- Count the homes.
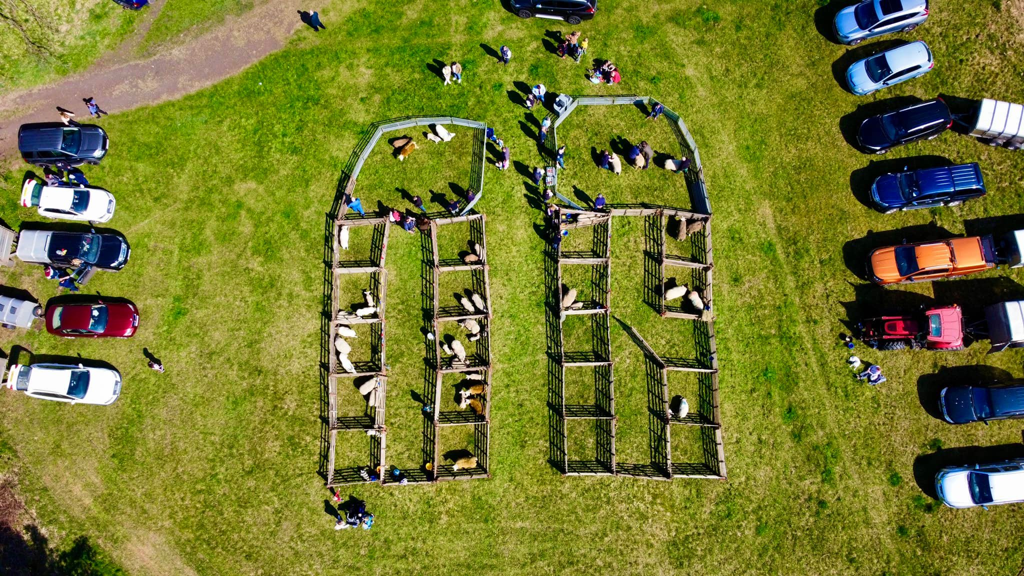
0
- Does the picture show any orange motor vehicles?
Yes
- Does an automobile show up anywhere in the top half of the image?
Yes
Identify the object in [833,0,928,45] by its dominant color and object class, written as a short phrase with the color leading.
blue car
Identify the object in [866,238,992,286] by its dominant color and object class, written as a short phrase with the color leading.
orange truck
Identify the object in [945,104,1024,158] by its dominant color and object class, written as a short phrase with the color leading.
white trailer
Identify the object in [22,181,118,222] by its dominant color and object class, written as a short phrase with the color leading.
white car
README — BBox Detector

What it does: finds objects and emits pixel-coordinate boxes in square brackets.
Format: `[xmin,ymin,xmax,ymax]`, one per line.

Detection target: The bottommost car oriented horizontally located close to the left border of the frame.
[8,360,122,405]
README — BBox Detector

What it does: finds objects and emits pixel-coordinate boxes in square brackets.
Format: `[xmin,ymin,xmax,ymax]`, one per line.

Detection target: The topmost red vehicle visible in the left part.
[45,295,140,338]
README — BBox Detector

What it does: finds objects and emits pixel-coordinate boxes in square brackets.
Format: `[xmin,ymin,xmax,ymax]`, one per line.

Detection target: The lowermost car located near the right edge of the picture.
[930,454,1024,506]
